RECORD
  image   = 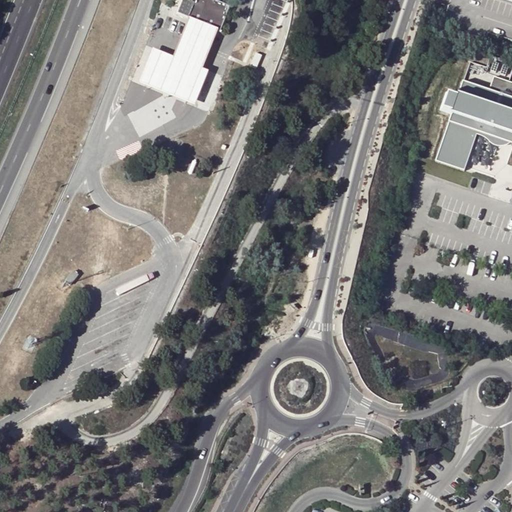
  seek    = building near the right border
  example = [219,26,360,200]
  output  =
[436,62,512,170]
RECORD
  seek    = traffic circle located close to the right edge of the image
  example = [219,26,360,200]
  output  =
[460,358,512,425]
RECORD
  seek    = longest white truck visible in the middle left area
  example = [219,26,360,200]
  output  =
[112,273,151,296]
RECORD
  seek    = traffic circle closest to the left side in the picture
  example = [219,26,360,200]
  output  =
[168,322,402,512]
